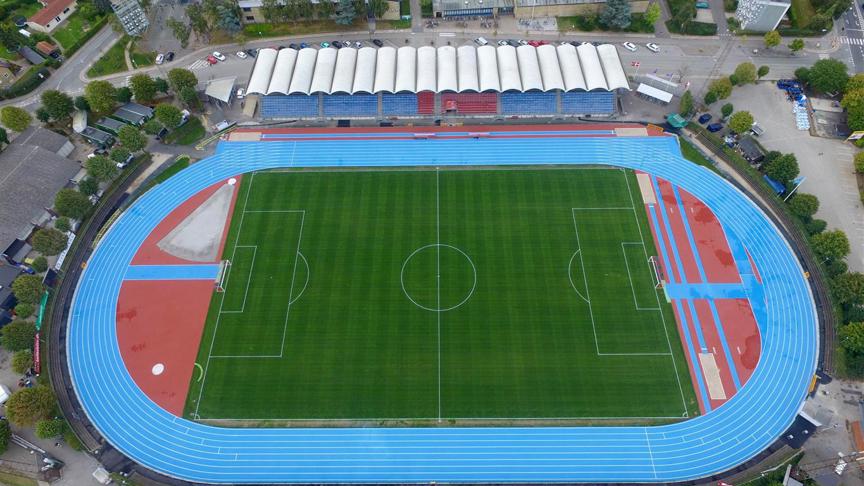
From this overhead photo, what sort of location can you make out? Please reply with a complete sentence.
This image shows a sports ground.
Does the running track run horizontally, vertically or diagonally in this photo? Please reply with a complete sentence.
In this picture, the running track is oriented horizontally.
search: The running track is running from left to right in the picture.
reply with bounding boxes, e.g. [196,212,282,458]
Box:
[67,136,818,484]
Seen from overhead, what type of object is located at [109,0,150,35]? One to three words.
building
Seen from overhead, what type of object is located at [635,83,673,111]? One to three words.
building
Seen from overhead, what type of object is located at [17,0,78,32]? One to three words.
house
